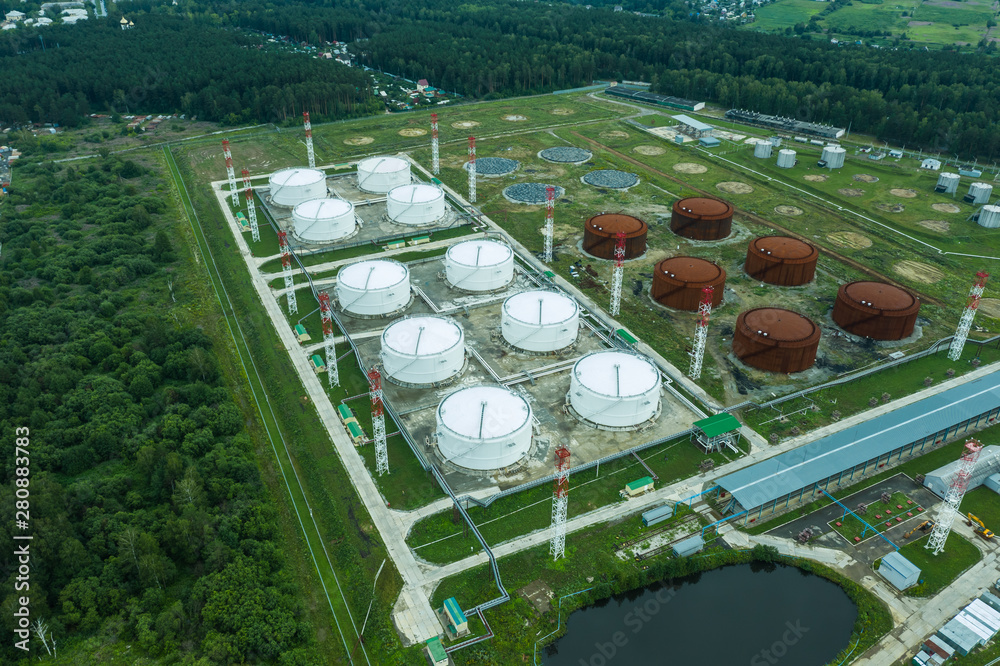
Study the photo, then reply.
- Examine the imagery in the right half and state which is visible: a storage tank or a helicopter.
storage tank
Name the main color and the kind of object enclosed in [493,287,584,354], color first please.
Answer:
white storage tank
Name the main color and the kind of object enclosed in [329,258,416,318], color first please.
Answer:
white storage tank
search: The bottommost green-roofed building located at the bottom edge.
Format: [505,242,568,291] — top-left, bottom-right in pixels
[421,638,456,666]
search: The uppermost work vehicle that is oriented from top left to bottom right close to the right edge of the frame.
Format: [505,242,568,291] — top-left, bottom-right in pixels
[966,515,998,542]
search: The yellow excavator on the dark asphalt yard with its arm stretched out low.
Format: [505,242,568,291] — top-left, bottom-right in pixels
[907,519,937,536]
